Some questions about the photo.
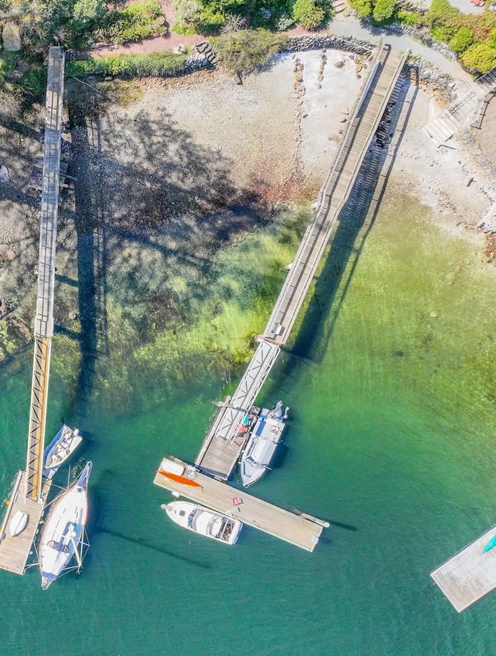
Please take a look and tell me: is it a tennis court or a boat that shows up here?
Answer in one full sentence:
I can see a boat in this picture.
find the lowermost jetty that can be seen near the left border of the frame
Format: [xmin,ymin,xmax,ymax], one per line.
[0,469,62,578]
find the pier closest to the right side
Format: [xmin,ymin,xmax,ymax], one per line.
[429,525,496,614]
